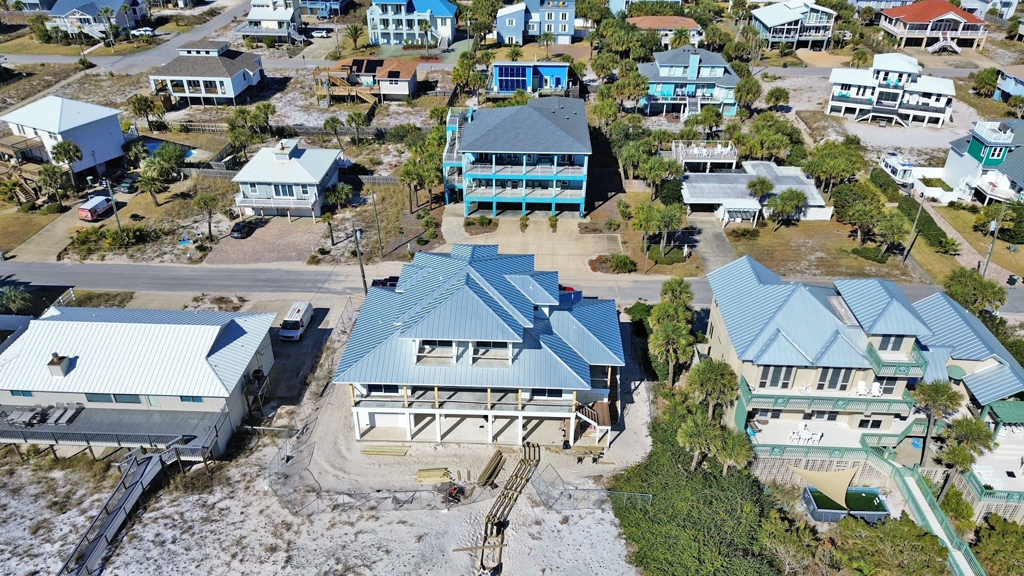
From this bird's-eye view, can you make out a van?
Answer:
Yes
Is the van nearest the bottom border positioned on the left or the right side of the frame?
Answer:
left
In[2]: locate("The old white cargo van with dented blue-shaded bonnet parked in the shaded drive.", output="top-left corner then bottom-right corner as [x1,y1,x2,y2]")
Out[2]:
[277,292,321,337]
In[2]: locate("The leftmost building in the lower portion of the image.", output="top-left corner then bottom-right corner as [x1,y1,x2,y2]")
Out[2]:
[0,298,279,480]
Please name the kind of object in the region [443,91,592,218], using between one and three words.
house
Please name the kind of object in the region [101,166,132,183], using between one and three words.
car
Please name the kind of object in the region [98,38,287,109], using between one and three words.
house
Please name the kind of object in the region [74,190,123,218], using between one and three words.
van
